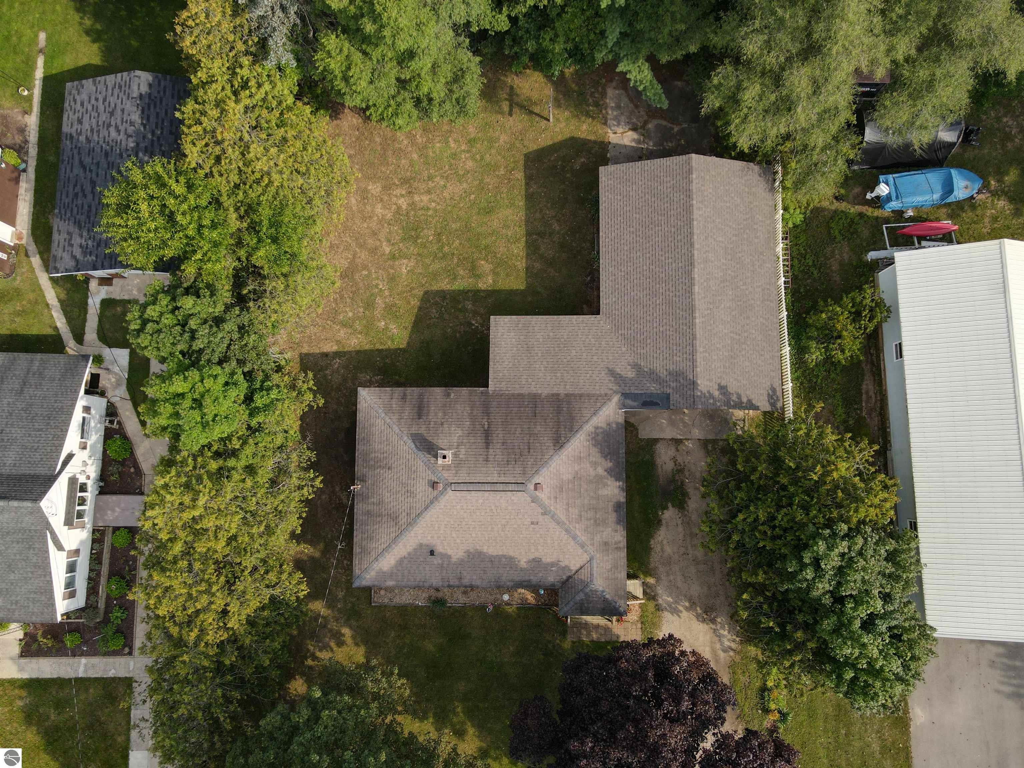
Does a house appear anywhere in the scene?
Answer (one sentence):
Yes, there is a house in the image.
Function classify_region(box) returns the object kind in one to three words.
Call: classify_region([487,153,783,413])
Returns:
building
